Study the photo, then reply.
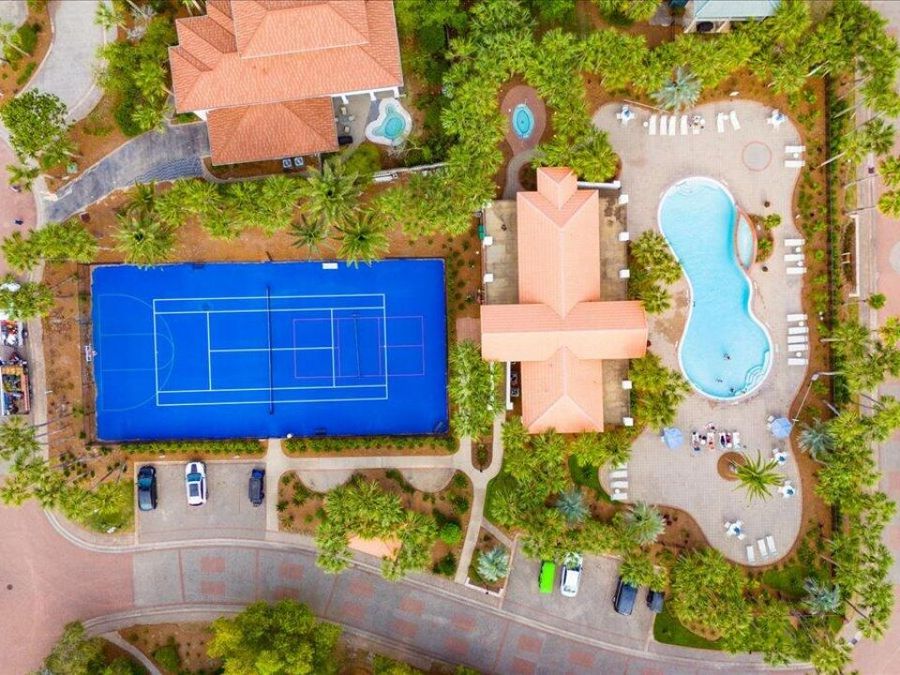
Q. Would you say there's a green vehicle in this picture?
Yes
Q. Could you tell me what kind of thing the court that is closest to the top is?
tennis court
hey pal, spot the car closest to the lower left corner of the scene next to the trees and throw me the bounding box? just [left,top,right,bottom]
[134,463,160,512]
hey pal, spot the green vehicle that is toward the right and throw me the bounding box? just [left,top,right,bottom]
[537,552,560,594]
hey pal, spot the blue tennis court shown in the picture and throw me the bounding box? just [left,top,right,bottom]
[91,258,448,442]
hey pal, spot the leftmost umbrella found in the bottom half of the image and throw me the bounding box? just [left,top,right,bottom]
[663,426,687,451]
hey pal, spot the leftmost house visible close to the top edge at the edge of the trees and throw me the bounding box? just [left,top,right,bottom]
[169,0,404,165]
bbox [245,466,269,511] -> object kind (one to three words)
car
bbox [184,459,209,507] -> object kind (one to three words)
car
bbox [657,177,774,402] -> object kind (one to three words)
swimming pool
